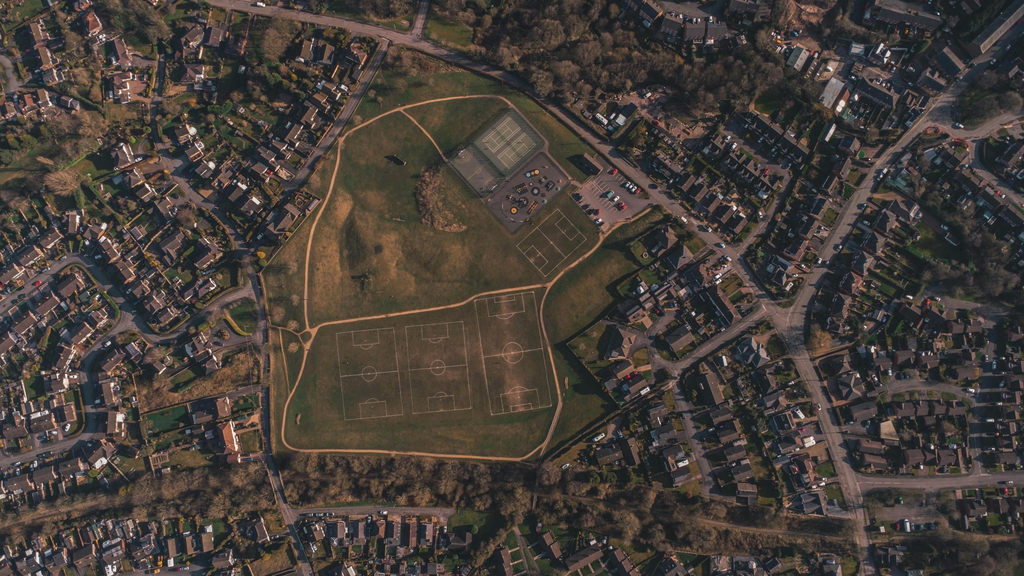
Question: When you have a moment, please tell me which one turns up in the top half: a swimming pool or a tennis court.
tennis court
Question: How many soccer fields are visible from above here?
4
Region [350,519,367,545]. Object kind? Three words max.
house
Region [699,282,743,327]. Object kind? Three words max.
building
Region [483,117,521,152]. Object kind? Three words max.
tennis court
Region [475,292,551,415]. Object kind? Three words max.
soccer field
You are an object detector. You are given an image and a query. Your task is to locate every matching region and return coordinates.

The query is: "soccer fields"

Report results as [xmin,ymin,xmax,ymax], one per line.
[517,209,587,277]
[336,328,403,420]
[406,321,471,414]
[475,292,551,415]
